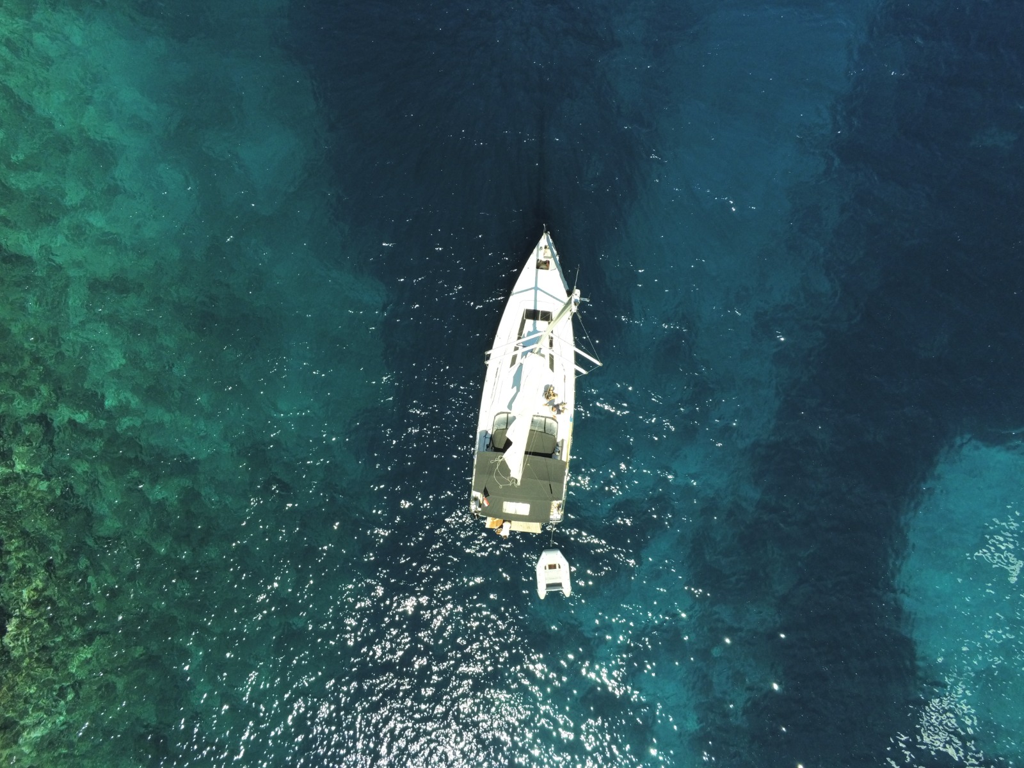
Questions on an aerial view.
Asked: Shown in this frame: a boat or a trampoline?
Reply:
boat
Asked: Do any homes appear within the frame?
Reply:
No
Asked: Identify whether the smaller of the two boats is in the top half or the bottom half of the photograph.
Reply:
bottom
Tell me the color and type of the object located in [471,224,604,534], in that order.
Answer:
white boat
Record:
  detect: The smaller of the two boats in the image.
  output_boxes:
[536,548,573,598]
